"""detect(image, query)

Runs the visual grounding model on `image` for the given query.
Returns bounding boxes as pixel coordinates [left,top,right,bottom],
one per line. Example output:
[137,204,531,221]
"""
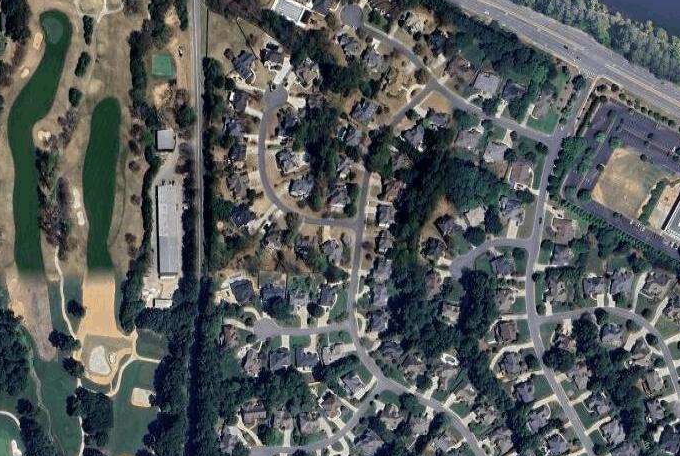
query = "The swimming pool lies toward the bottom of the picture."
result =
[441,353,457,366]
